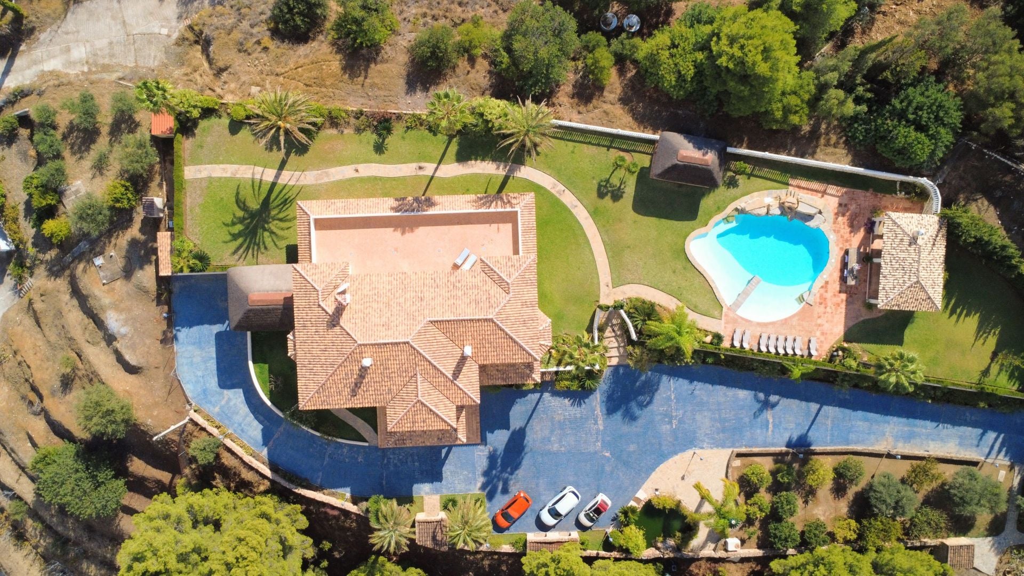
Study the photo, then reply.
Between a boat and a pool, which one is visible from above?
pool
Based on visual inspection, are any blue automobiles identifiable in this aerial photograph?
No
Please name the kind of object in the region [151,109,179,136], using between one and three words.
shed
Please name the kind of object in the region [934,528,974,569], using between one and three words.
shed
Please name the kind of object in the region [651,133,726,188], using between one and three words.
building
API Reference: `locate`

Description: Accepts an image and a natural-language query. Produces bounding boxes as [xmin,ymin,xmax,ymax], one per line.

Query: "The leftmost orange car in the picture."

[495,489,532,528]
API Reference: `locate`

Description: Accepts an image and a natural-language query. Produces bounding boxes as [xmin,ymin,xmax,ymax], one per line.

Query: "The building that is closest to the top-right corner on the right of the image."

[855,212,947,312]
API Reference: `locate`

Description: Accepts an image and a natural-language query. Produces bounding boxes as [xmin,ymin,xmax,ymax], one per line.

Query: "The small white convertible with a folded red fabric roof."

[578,491,613,528]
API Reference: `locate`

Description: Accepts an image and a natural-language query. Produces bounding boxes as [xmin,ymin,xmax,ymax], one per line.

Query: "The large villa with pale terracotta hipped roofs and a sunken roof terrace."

[287,192,552,449]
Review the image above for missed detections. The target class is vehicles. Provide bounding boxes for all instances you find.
[540,483,581,528]
[495,489,532,528]
[578,491,613,528]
